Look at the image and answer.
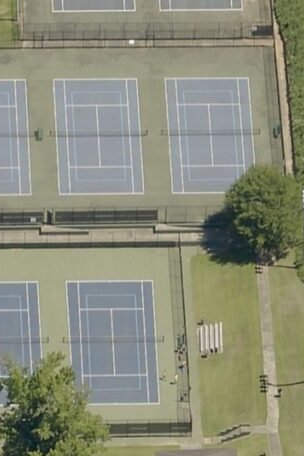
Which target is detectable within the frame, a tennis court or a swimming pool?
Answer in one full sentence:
It is a tennis court that can be seen here.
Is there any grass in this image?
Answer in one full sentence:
Yes, grass shows up in the scene.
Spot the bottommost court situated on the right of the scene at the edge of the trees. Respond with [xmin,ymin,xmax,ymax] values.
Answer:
[165,78,256,193]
